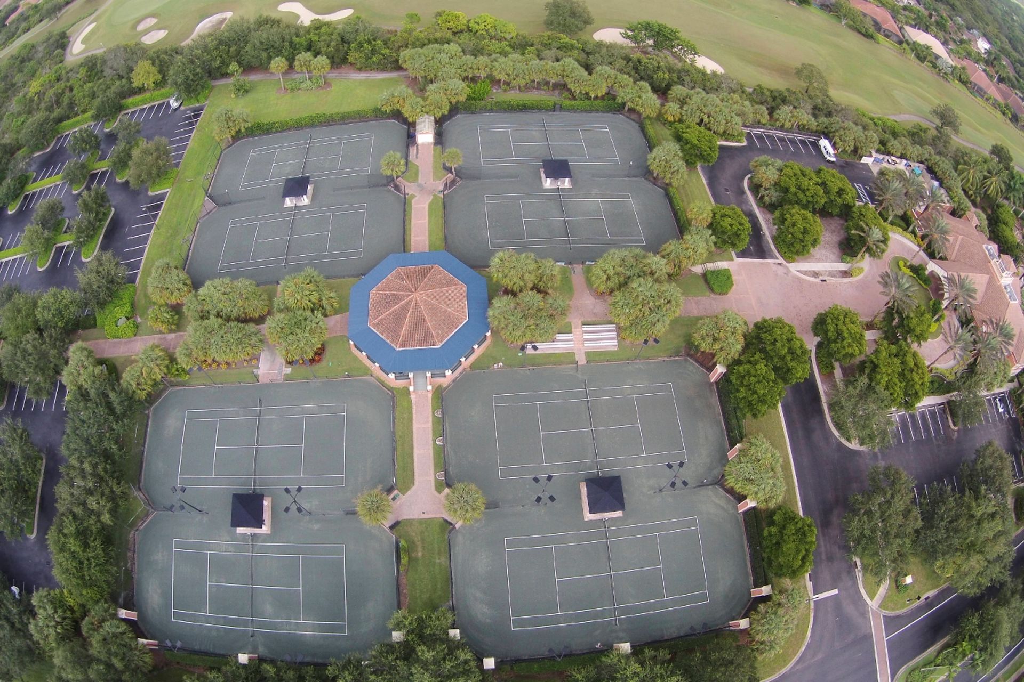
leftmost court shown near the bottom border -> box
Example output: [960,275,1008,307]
[133,512,400,663]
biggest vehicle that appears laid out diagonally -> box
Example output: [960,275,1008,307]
[818,134,838,158]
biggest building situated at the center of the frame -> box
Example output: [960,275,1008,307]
[346,251,495,397]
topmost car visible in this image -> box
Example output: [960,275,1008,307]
[168,94,181,109]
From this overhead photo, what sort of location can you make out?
sports ground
